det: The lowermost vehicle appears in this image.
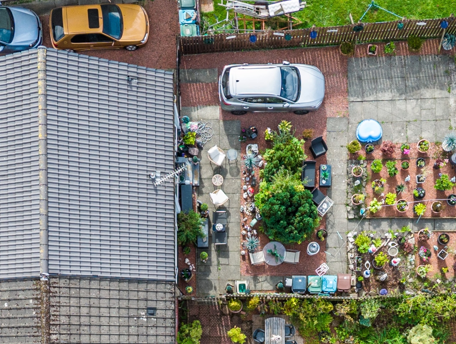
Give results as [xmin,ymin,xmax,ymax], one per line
[218,56,326,115]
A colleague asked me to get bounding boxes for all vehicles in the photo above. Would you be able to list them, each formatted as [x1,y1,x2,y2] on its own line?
[0,0,44,56]
[218,56,326,115]
[50,0,150,52]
